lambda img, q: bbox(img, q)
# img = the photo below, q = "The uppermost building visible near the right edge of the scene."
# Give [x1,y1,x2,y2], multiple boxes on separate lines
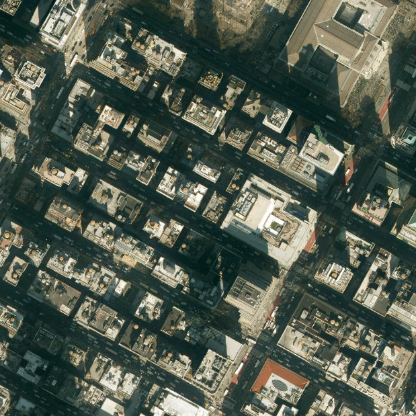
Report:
[278,0,398,93]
